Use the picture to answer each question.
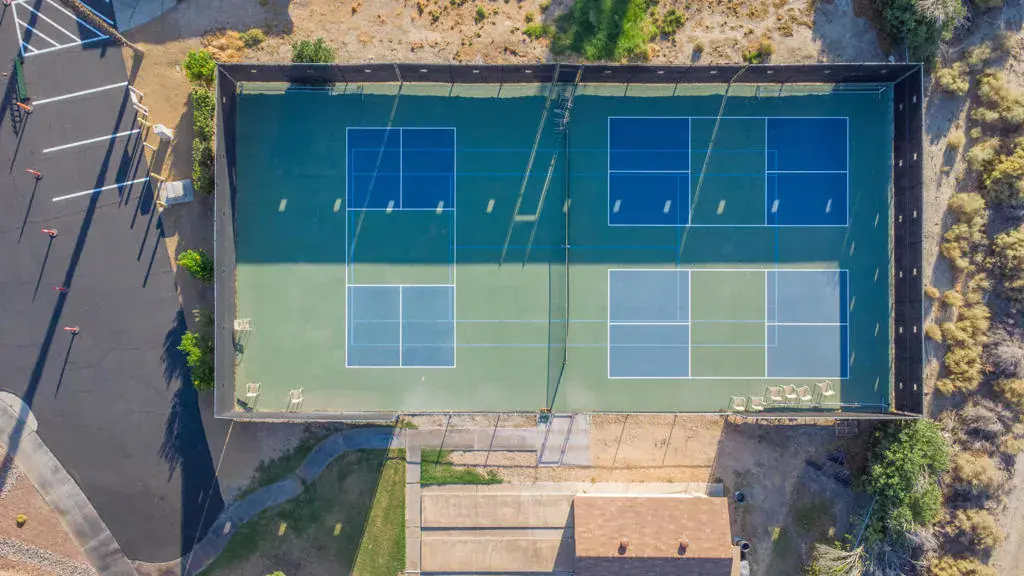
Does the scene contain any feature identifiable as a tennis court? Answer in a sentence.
Yes, the frame does contain a tennis court.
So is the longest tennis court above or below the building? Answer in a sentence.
You can see the longest tennis court above the building in the frame.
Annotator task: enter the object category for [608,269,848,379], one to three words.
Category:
sports court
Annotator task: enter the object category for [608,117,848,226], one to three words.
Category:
sports court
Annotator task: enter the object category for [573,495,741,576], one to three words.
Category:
building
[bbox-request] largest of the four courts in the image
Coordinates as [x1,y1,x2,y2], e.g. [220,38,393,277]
[234,82,894,412]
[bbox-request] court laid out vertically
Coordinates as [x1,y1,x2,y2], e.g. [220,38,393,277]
[347,127,456,368]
